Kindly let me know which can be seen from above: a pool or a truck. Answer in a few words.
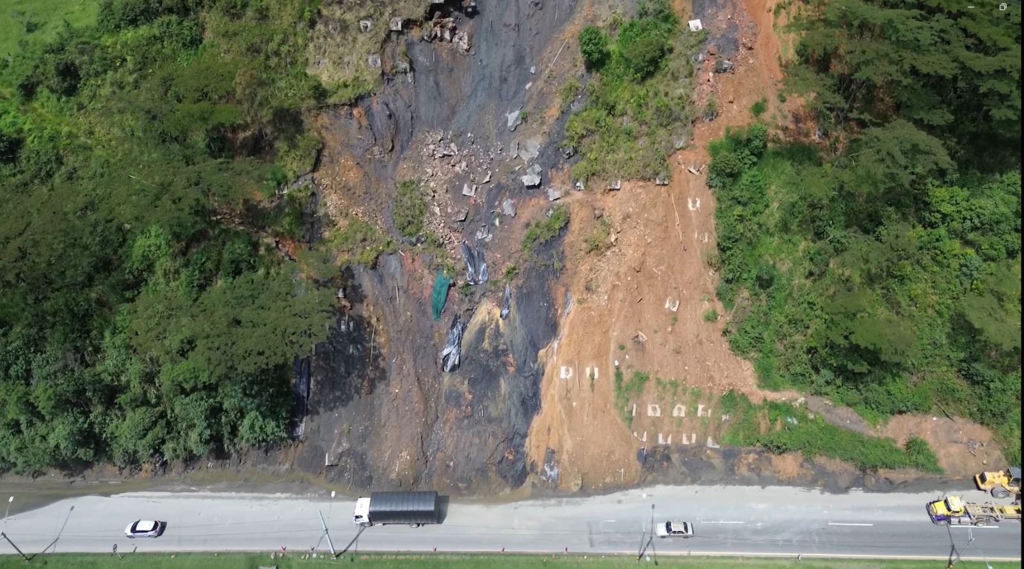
truck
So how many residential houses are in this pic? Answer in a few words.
0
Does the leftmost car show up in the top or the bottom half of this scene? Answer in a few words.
bottom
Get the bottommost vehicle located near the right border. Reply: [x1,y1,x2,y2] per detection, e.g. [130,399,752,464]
[927,493,1024,527]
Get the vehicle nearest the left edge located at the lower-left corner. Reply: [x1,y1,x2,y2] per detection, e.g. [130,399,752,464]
[123,518,163,538]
